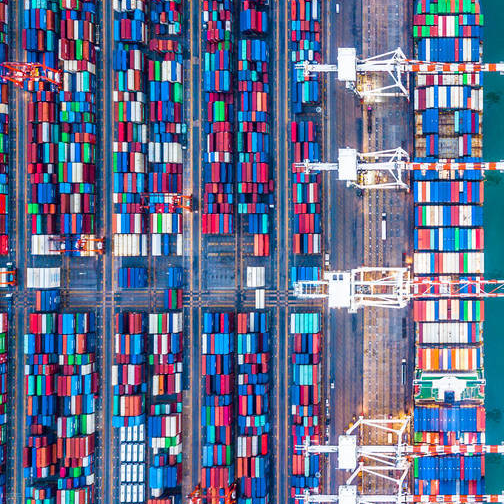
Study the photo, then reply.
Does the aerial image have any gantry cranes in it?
Yes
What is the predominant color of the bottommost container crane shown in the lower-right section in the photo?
white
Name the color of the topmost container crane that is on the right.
white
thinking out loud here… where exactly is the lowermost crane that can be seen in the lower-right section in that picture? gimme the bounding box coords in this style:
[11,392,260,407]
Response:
[295,456,504,504]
